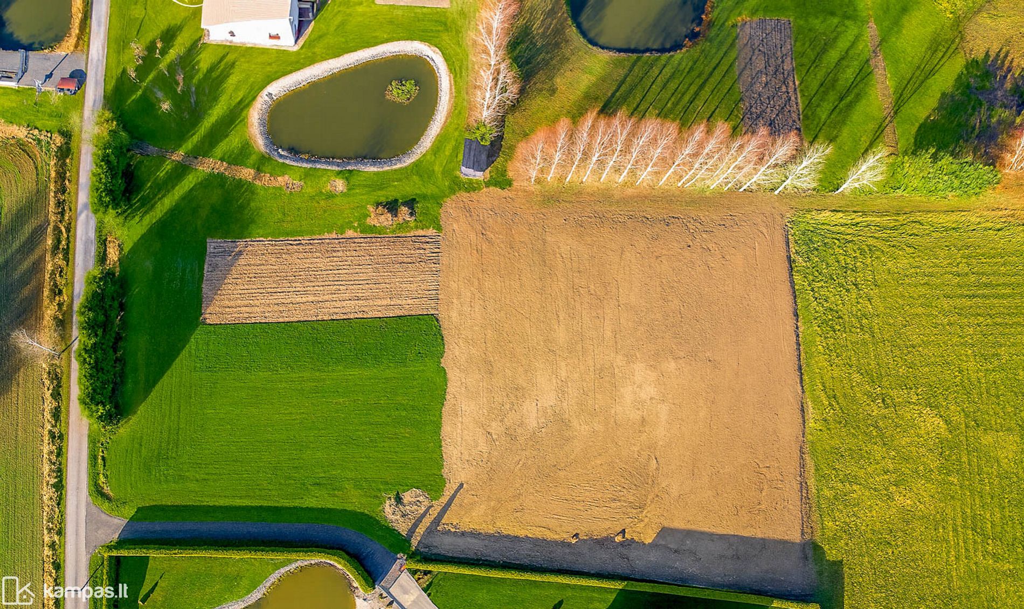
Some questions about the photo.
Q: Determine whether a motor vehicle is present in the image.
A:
No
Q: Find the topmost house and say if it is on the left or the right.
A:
left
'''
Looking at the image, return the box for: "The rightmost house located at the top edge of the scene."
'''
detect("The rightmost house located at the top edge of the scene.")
[196,0,313,47]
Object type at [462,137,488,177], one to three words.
shed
